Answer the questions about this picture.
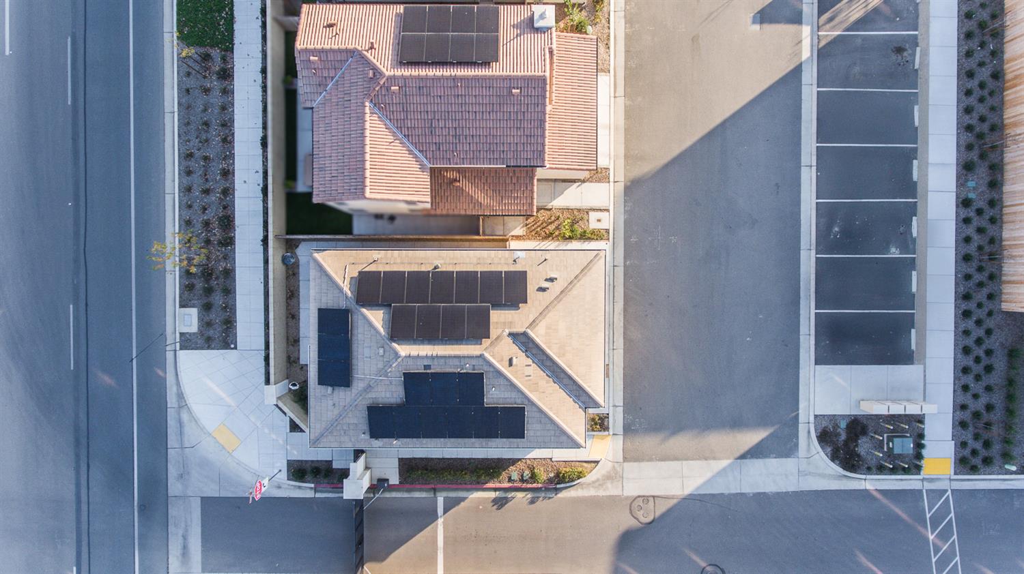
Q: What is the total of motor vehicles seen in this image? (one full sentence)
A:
Not a single motor vehicle can be seen.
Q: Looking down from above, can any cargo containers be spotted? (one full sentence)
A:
No, there isn't any cargo container down there.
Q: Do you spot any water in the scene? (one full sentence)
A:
No, no water is visible.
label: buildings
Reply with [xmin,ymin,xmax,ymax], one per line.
[307,246,609,451]
[289,0,600,217]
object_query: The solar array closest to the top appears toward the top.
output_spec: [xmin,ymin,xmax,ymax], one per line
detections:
[398,6,500,62]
